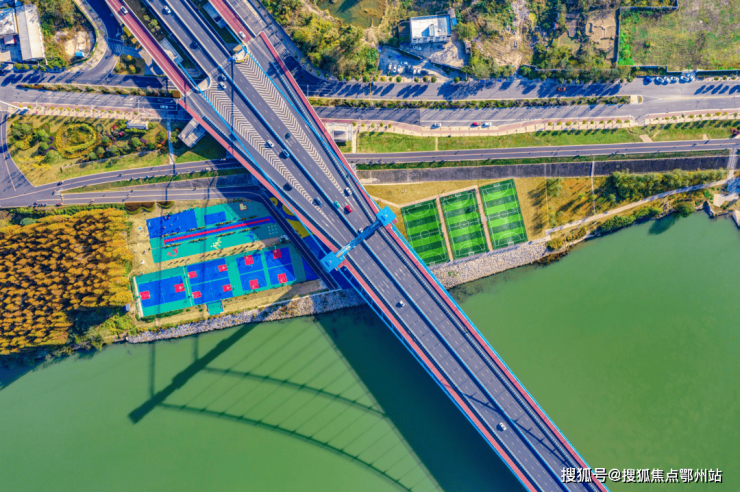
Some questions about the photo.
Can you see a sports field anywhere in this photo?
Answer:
Yes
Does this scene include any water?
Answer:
Yes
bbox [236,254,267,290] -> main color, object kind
blue basketball court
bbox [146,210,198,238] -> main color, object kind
blue sports court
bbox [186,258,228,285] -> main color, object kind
blue basketball court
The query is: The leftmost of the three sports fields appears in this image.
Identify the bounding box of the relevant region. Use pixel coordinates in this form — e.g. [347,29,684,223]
[401,199,449,266]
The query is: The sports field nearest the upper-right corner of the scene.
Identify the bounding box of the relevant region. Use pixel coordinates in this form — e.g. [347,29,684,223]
[479,178,528,249]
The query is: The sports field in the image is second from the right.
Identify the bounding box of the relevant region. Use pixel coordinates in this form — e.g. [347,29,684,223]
[439,189,490,259]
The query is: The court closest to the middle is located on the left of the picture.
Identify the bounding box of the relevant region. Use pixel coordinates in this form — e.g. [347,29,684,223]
[264,247,295,285]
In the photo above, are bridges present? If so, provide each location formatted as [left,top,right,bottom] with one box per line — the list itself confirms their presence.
[106,0,609,492]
